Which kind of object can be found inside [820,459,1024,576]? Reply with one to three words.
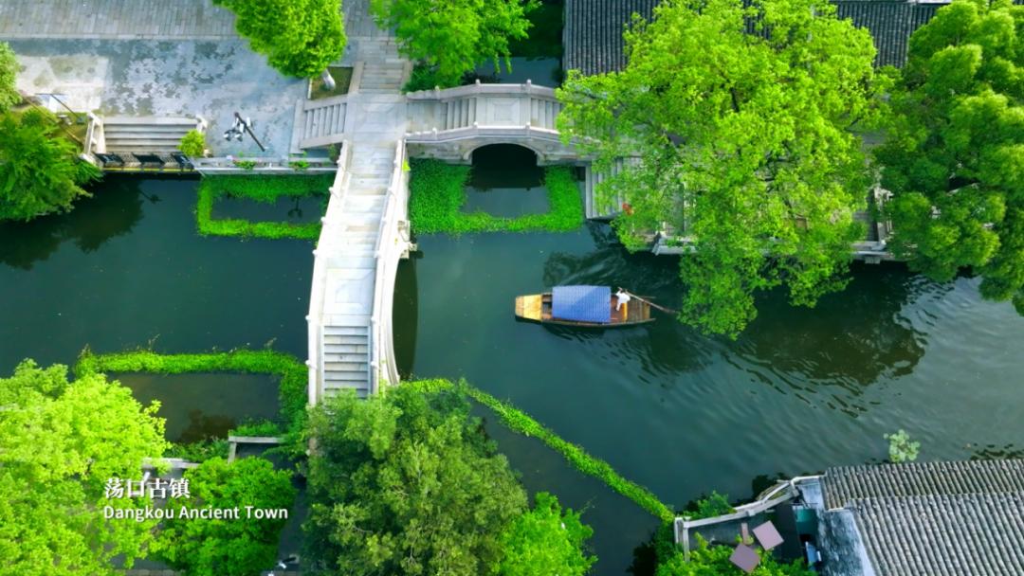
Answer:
house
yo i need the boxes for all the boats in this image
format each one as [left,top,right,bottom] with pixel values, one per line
[516,283,661,325]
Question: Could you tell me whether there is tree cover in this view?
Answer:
Yes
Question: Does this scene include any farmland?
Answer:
No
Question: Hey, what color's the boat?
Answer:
blue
